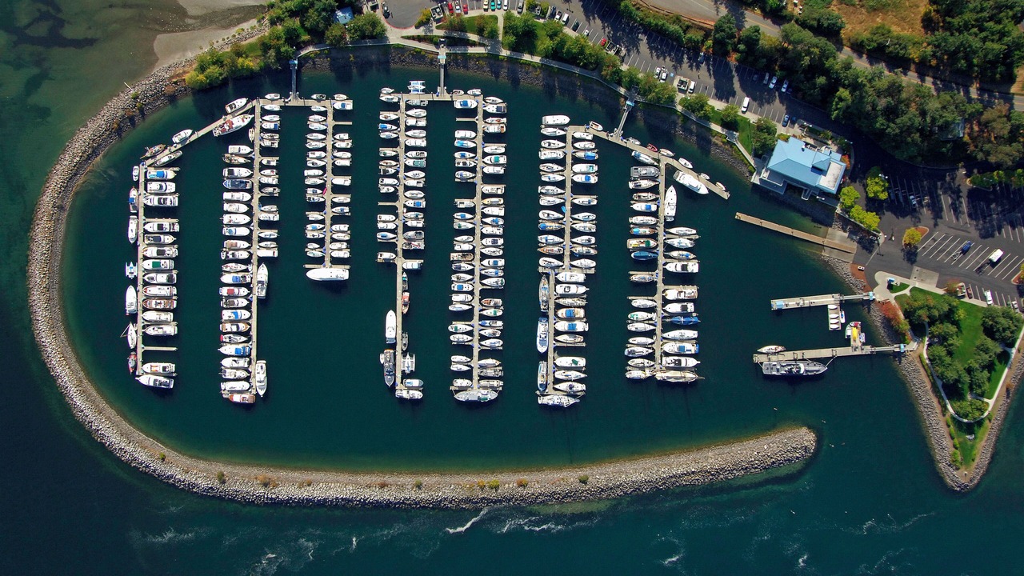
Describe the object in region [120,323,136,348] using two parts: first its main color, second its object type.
white boat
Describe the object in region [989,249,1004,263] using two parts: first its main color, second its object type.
white vehicle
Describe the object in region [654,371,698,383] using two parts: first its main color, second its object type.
white boat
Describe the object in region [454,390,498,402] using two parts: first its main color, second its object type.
white vessel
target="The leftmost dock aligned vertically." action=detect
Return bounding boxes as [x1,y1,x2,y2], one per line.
[136,161,181,376]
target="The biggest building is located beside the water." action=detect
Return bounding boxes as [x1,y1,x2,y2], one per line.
[749,134,845,207]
